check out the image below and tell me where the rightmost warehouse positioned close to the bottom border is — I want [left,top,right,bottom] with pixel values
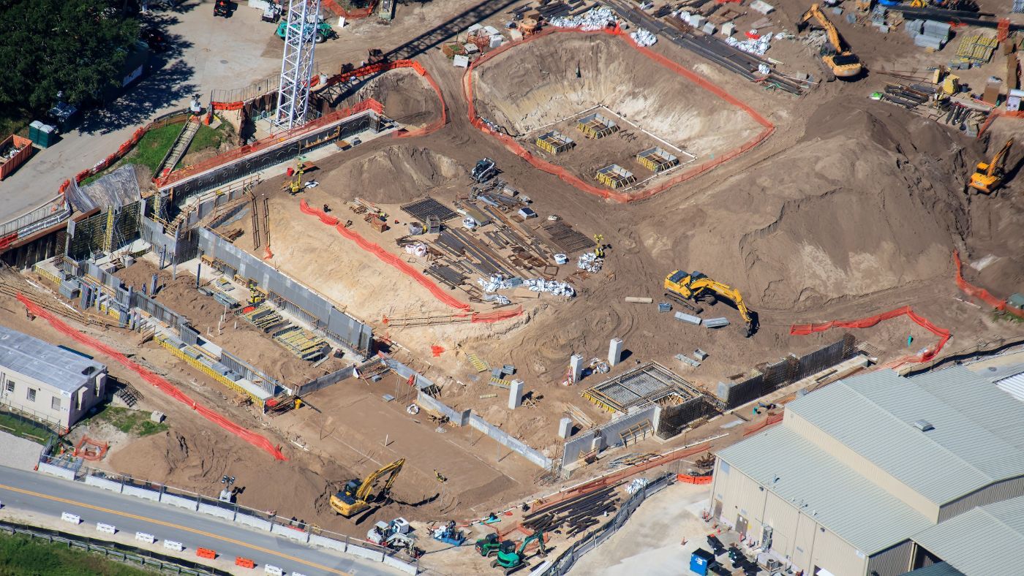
[708,358,1024,576]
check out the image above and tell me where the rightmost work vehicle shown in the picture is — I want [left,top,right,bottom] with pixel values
[967,136,1015,196]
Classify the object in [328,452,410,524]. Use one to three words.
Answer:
work vehicle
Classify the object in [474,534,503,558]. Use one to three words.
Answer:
work vehicle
